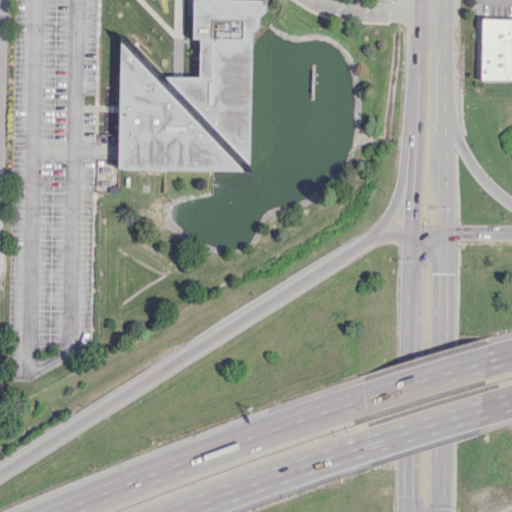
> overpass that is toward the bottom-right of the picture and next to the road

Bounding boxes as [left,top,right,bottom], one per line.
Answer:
[364,338,484,468]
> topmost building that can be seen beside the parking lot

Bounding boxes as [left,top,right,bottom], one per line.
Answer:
[110,0,268,174]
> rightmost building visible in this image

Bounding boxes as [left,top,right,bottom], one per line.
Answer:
[480,18,512,83]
